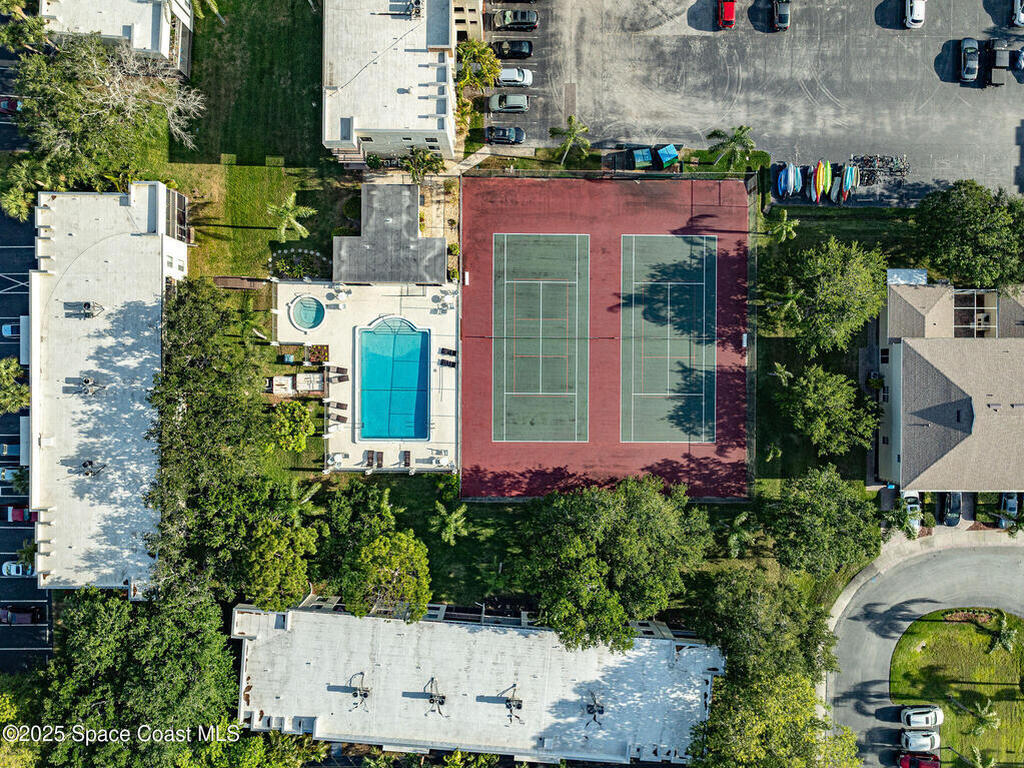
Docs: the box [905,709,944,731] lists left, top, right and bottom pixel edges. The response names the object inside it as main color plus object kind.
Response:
white car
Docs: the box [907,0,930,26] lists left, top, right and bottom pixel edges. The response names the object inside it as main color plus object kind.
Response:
white car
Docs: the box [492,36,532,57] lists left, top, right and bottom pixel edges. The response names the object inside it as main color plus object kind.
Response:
black car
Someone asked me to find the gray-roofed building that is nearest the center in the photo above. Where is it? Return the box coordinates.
[333,184,448,286]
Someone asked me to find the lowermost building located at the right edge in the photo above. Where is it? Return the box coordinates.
[879,284,1024,492]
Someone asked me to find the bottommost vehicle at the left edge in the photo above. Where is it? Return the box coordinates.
[0,605,37,628]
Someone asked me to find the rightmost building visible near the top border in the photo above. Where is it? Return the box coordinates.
[322,0,455,180]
